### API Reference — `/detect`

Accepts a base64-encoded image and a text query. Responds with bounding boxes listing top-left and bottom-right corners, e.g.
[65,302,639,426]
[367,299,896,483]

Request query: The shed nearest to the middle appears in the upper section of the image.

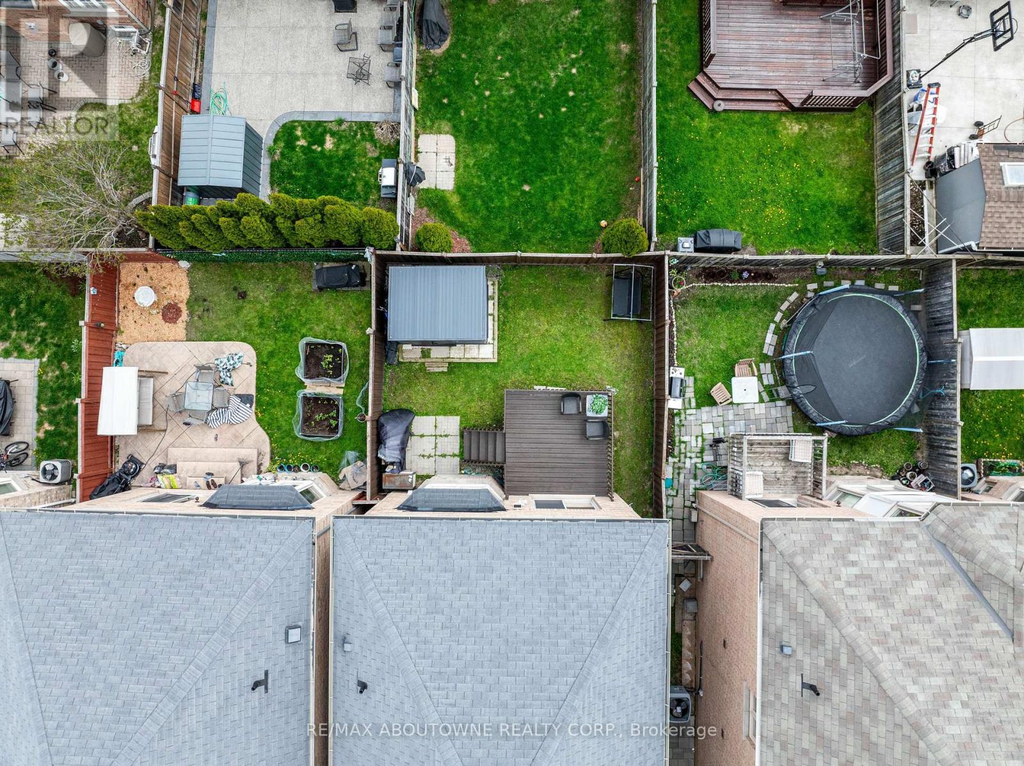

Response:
[388,265,489,345]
